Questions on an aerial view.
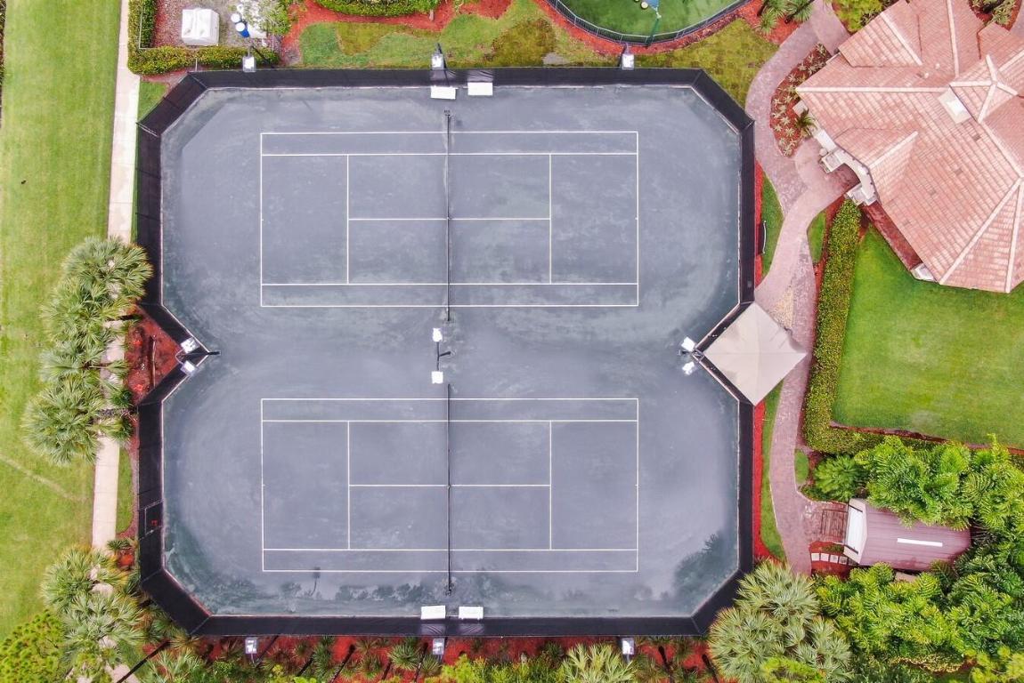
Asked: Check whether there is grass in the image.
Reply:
Yes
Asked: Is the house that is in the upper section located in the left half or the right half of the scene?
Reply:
right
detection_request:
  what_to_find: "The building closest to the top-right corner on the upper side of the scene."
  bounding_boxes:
[796,0,1024,293]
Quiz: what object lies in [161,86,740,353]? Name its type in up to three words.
tennis court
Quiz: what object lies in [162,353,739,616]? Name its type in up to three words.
tennis court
